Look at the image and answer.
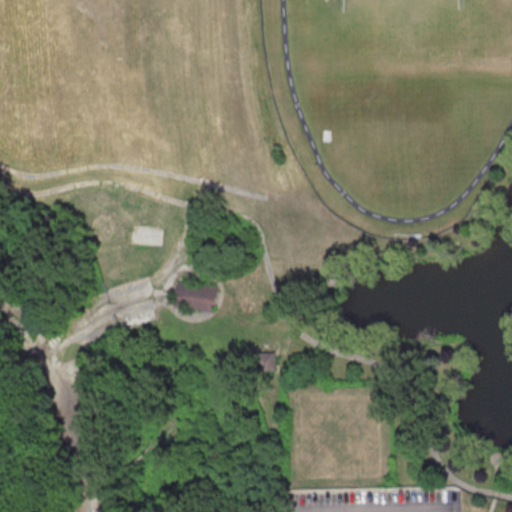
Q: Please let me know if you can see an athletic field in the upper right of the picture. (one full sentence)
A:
Yes, I can see an athletic field in the upper right of the picture.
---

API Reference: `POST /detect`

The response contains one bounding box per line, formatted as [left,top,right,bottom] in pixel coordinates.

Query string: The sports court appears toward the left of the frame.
[132,226,164,248]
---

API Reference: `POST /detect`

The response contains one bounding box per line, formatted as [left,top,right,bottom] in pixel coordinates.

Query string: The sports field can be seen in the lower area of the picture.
[288,386,387,481]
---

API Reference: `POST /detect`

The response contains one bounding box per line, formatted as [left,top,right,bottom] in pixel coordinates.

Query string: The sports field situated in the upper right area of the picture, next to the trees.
[286,0,512,219]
